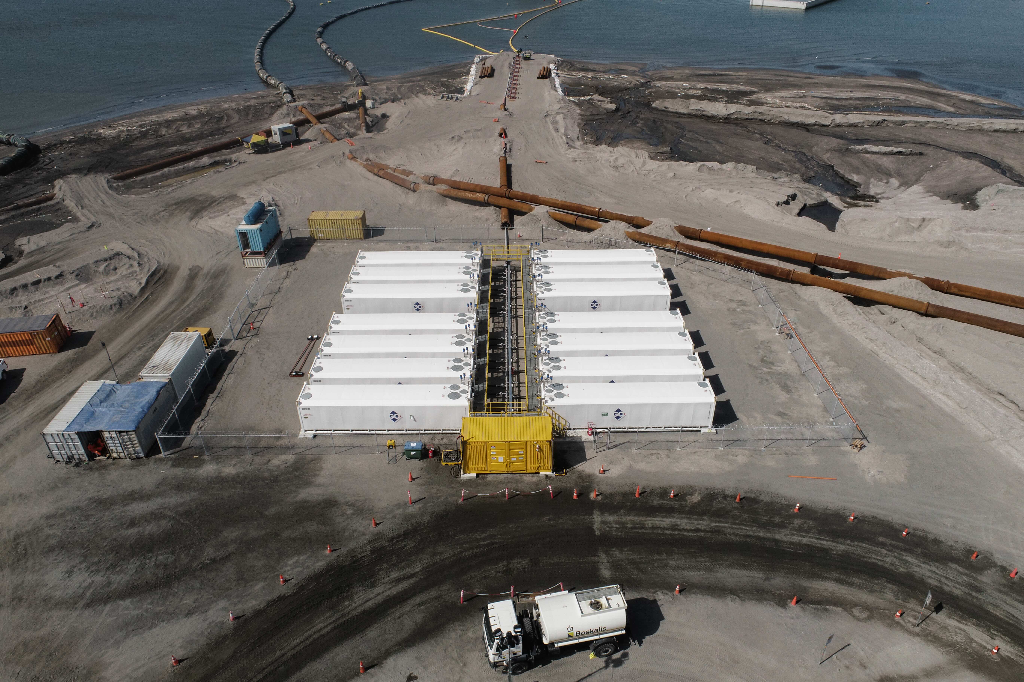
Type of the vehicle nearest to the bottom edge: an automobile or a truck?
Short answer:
truck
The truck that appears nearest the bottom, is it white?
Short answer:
Yes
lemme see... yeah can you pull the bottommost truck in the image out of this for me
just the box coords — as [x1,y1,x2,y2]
[481,578,634,677]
